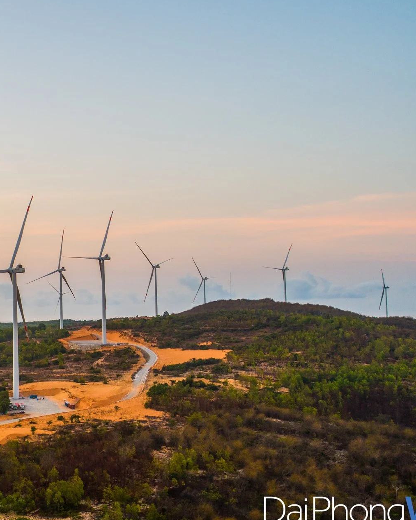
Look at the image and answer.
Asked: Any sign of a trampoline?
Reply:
No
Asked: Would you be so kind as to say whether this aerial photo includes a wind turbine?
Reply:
Yes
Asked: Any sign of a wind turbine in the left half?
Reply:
Yes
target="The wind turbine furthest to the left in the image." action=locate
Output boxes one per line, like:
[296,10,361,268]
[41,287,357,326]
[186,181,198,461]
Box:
[0,198,31,400]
